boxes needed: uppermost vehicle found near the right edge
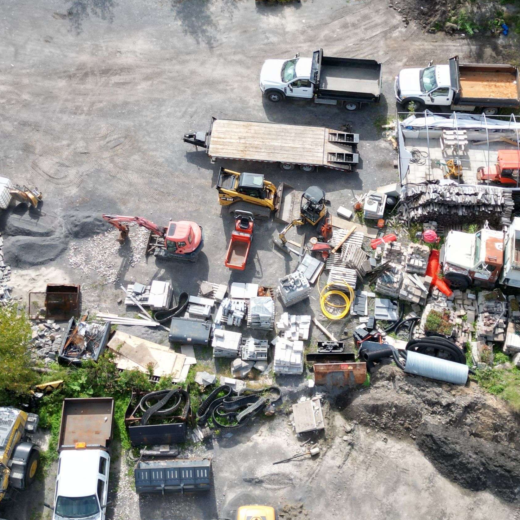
[394,54,520,120]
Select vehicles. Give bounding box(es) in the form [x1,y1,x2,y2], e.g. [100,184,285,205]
[226,202,254,266]
[254,47,377,113]
[427,207,520,282]
[475,140,520,180]
[36,394,122,520]
[0,401,48,520]
[213,163,308,226]
[394,54,520,120]
[102,214,213,272]
[280,191,340,244]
